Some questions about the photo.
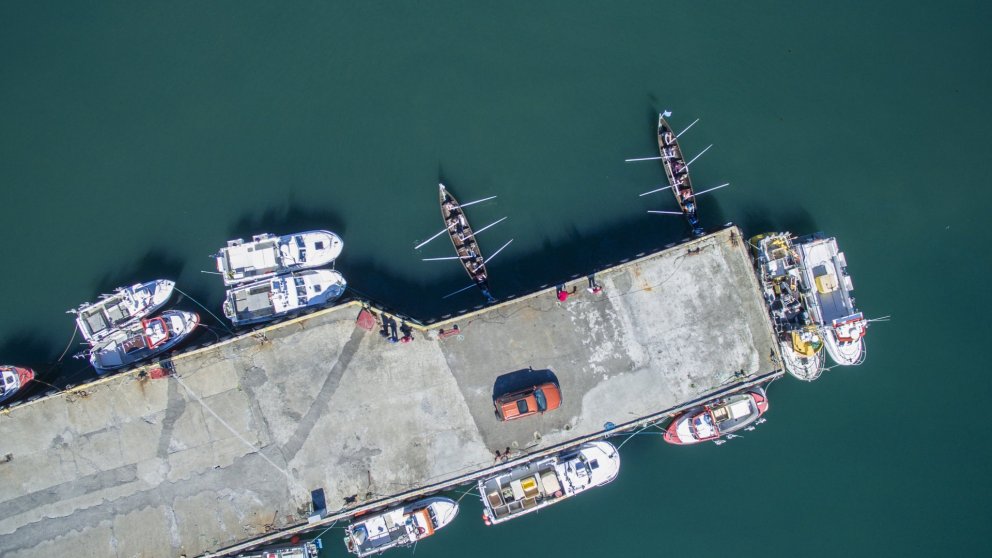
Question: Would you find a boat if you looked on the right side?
Yes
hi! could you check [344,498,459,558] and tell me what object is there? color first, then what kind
white boat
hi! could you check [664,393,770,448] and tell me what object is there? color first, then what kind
white boat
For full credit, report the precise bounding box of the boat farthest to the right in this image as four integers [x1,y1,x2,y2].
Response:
[796,227,890,368]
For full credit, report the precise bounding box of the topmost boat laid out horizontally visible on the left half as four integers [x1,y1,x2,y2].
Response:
[201,230,346,285]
